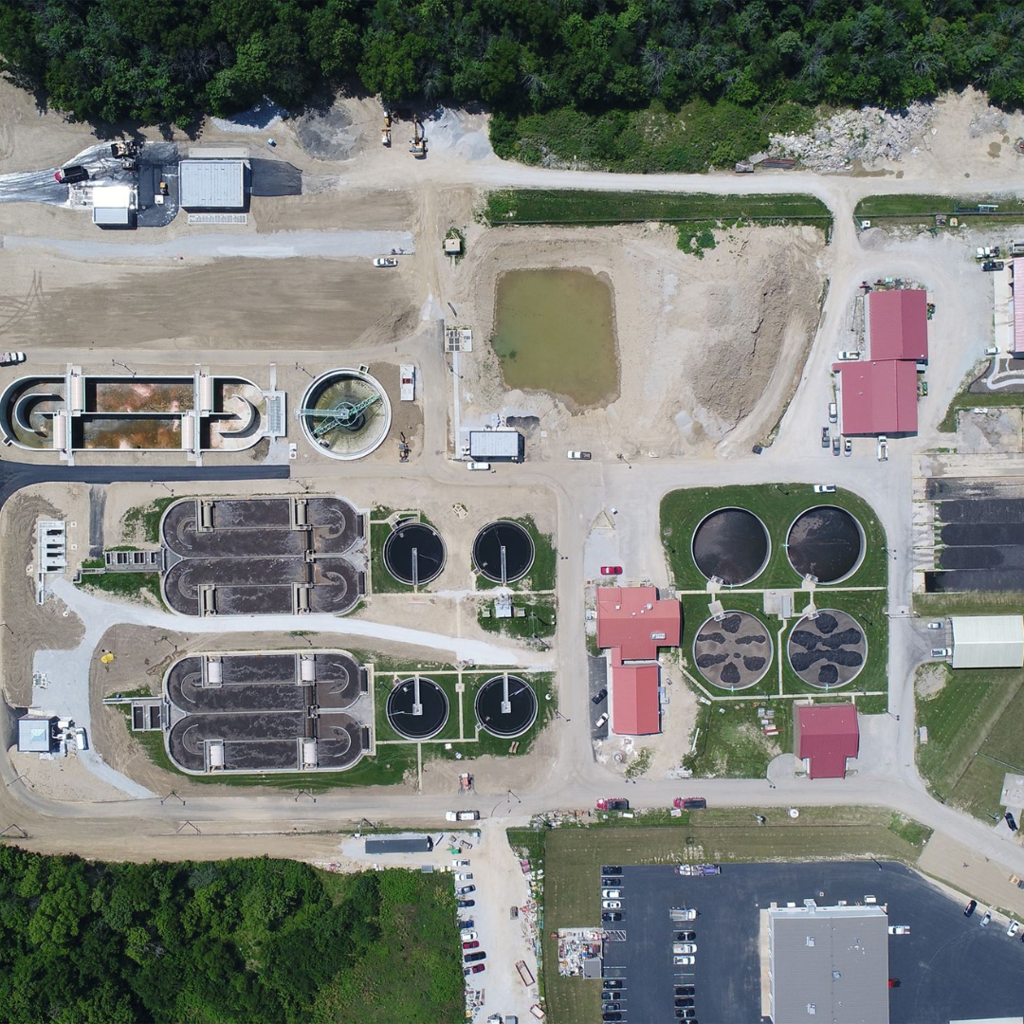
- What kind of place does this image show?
industrial area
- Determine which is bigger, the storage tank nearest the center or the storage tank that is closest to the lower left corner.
the storage tank that is closest to the lower left corner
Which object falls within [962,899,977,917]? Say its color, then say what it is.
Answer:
black car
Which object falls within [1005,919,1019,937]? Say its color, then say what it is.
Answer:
white car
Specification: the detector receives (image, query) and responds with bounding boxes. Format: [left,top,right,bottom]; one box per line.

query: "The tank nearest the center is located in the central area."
[472,520,535,584]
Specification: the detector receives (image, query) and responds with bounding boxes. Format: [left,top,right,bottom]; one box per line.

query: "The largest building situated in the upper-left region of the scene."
[180,161,249,212]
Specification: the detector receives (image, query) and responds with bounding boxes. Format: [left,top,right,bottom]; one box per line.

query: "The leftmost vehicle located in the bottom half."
[75,729,88,751]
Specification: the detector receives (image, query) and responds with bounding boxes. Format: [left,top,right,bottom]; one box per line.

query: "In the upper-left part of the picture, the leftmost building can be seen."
[89,186,138,228]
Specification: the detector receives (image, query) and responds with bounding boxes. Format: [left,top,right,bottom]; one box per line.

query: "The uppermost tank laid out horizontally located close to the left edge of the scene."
[0,363,287,466]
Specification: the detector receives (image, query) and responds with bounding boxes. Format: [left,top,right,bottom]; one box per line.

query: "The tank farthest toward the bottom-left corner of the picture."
[166,648,376,775]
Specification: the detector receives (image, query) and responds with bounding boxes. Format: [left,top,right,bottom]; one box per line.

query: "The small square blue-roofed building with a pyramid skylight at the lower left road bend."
[18,717,57,752]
